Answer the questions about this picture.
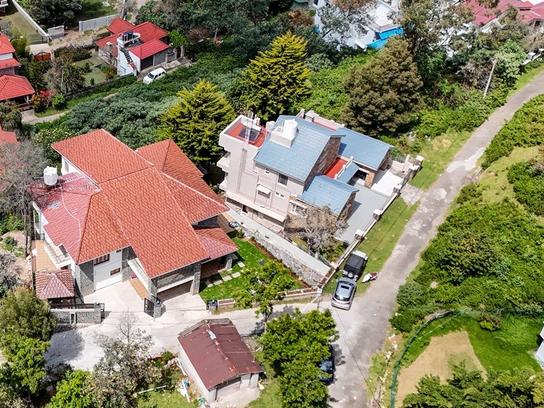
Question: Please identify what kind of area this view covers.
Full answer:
This looks like a residential area.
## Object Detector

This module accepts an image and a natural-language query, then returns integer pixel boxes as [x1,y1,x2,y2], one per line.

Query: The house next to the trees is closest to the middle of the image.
[214,113,416,268]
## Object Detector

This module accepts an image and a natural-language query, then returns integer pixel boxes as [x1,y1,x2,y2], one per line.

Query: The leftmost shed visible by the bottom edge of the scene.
[176,320,266,408]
